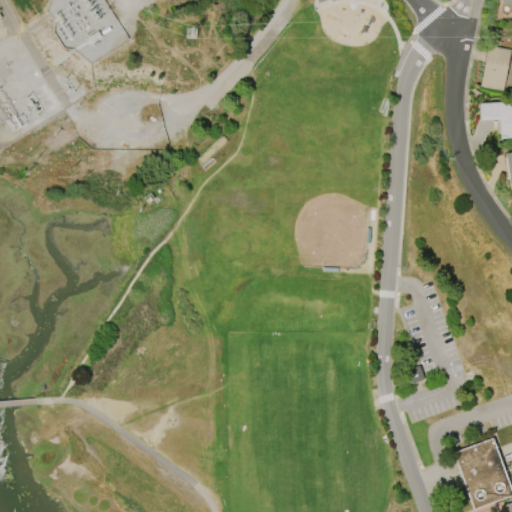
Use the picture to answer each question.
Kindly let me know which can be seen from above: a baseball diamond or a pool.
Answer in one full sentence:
This aerial view contains a baseball diamond.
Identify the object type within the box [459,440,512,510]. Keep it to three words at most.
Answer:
building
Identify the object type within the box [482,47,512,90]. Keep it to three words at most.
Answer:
house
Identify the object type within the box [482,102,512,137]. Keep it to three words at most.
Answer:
house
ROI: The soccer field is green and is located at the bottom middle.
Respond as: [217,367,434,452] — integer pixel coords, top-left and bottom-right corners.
[228,332,391,512]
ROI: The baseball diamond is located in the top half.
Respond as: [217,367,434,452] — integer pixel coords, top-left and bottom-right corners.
[235,130,371,268]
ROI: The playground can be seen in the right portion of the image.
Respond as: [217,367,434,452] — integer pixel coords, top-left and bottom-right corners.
[320,0,386,46]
